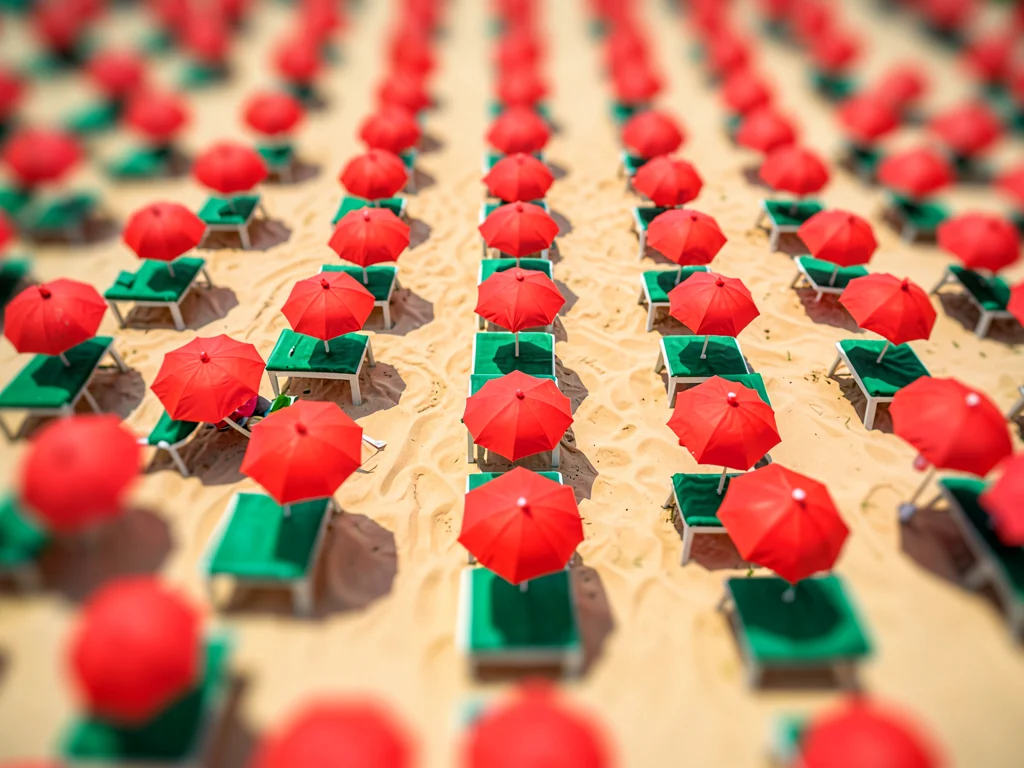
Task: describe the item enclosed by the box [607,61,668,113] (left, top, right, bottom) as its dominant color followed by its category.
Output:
red umbrella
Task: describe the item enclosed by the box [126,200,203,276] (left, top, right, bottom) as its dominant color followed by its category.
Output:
red umbrella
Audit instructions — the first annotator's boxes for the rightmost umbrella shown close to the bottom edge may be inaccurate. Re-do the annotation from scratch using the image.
[790,688,943,768]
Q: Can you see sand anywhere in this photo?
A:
Yes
